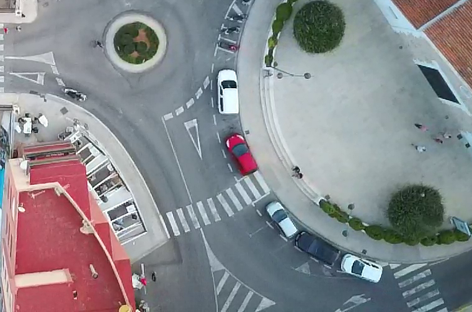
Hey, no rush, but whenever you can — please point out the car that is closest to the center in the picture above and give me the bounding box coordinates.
[224,132,258,178]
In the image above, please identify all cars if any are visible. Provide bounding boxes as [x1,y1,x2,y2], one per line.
[264,199,300,242]
[293,229,343,268]
[338,251,386,284]
[216,69,242,115]
[224,132,258,178]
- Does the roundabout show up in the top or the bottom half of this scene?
top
